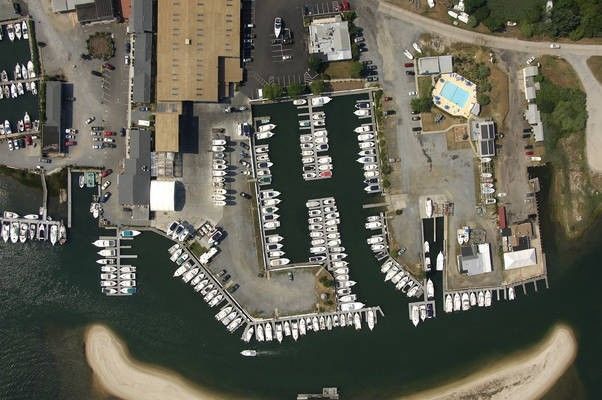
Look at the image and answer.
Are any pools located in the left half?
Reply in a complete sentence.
No, looking in the left half, there is no pool.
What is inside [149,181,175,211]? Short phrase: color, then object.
white tent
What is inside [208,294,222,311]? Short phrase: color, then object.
white boat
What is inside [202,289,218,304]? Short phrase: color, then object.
white boat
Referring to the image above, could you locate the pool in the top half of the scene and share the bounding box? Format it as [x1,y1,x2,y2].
[433,72,477,119]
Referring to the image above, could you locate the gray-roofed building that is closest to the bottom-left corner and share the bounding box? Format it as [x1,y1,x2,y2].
[122,205,149,225]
